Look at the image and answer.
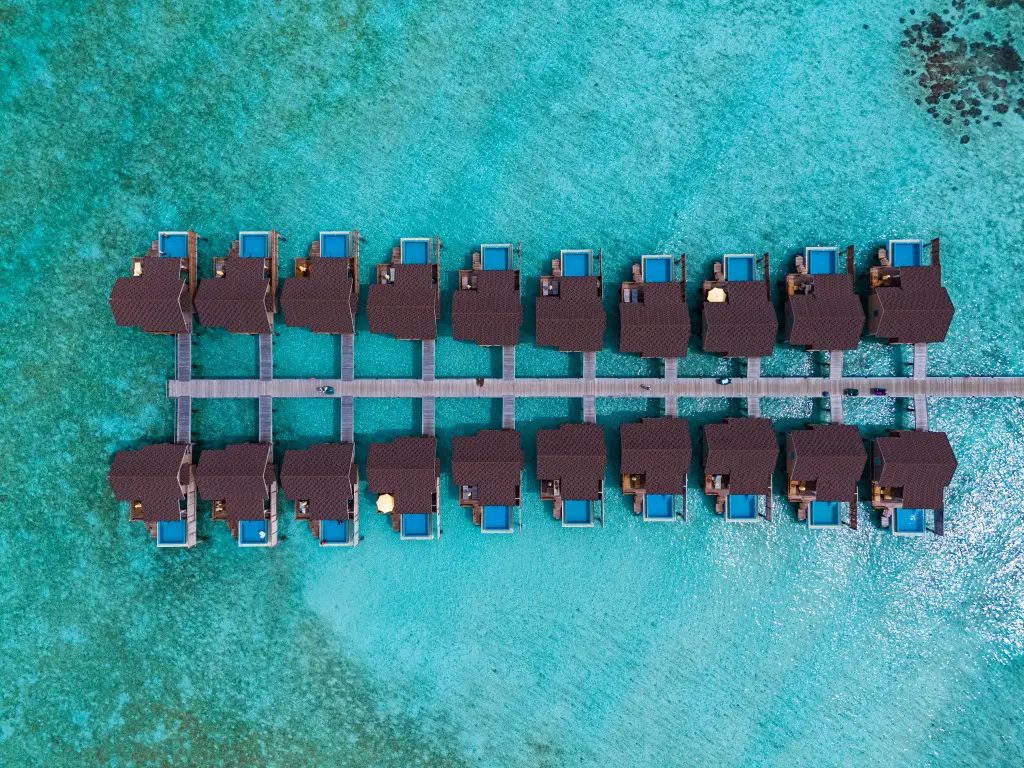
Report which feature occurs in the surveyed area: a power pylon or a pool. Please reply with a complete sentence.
Visible in the photo is a pool.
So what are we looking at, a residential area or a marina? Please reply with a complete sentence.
This image shows a residential area.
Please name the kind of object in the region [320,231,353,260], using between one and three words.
swimming pool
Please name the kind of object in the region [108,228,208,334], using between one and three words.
house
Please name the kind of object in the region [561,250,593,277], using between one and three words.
swimming pool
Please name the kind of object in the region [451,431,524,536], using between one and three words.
house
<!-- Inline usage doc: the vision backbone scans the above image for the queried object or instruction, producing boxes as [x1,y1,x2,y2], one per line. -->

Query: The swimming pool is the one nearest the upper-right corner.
[885,240,921,269]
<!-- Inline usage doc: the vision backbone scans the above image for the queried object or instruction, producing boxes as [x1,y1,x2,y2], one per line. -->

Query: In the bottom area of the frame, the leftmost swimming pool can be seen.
[157,518,187,547]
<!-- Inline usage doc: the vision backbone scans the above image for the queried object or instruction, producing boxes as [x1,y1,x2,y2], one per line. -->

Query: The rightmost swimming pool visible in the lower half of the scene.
[888,507,924,536]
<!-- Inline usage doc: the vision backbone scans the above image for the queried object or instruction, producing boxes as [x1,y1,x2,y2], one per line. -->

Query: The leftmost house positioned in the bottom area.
[107,444,206,550]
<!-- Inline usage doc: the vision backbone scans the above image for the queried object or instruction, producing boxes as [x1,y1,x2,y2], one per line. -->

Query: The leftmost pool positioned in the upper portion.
[159,232,188,260]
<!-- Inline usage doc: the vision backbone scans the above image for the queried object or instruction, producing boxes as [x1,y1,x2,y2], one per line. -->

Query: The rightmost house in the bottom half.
[864,433,957,538]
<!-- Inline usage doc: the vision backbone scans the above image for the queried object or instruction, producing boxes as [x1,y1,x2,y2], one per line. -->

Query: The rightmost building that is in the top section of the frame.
[861,237,954,342]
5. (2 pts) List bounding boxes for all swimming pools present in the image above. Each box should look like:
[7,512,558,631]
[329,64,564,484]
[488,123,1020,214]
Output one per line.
[157,518,187,547]
[723,493,758,522]
[239,517,270,546]
[159,232,188,260]
[640,255,673,284]
[805,500,841,528]
[642,492,675,521]
[401,238,434,267]
[802,247,838,276]
[885,240,921,269]
[320,231,353,260]
[888,507,924,536]
[561,250,593,277]
[239,231,271,260]
[481,506,513,533]
[401,511,434,540]
[481,244,513,271]
[722,254,756,283]
[319,517,353,546]
[562,500,594,527]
